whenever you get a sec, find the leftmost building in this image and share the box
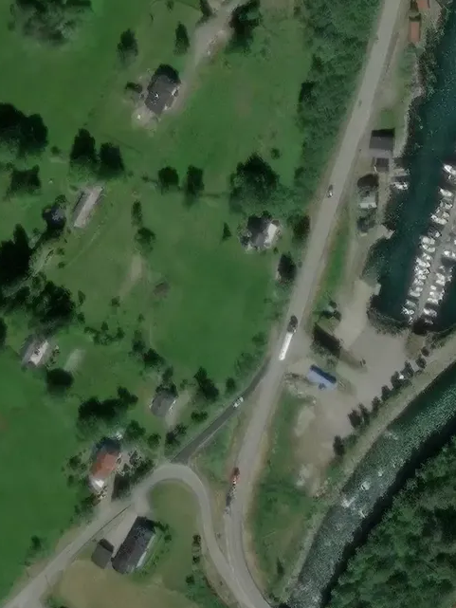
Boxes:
[21,336,48,366]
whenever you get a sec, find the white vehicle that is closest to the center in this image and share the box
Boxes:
[278,316,297,360]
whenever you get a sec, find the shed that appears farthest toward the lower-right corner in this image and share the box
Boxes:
[305,365,337,392]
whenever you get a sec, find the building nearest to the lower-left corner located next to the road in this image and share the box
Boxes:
[91,544,113,568]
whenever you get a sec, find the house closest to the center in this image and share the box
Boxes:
[255,219,285,247]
